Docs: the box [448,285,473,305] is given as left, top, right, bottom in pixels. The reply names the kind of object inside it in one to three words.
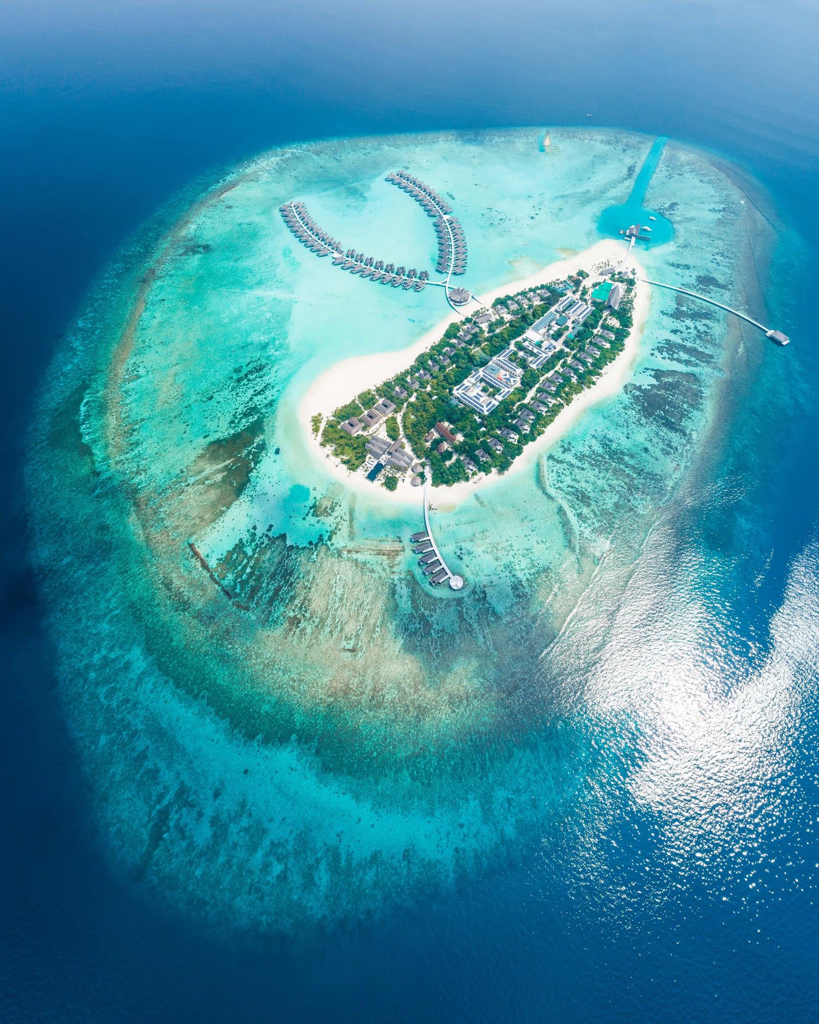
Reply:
building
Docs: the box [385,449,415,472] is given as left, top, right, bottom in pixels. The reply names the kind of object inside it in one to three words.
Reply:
building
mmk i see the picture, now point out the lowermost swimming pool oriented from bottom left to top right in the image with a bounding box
[364,460,386,484]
